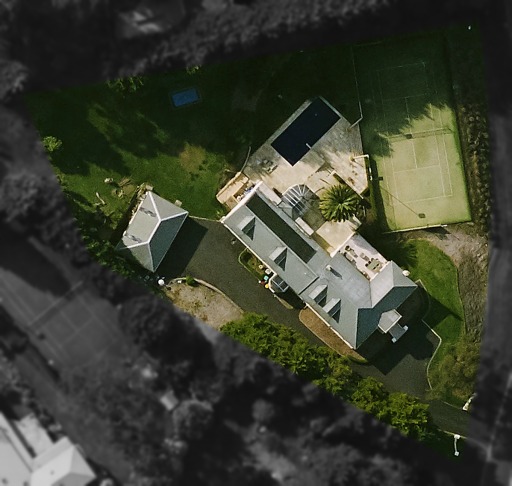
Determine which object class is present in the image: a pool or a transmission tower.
pool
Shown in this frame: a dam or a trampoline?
trampoline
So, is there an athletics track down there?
No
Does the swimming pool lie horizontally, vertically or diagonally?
diagonally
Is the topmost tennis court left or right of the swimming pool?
to its right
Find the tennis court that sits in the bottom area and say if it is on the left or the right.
left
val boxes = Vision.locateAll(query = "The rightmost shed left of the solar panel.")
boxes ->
[216,172,248,203]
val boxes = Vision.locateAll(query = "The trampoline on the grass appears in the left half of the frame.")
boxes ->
[170,86,200,110]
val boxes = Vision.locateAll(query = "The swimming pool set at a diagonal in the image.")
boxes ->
[271,96,340,166]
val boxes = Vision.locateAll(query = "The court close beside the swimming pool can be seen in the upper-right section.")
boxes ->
[352,30,472,233]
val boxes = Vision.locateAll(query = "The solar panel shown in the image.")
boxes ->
[246,194,317,264]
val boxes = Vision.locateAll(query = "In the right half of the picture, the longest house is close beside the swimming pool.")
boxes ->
[222,182,418,350]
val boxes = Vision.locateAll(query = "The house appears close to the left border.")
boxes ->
[0,410,96,486]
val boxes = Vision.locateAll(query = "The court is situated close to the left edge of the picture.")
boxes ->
[0,226,128,385]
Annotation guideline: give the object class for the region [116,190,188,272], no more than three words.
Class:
building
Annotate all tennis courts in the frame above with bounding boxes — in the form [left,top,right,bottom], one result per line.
[0,226,128,385]
[352,30,472,233]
